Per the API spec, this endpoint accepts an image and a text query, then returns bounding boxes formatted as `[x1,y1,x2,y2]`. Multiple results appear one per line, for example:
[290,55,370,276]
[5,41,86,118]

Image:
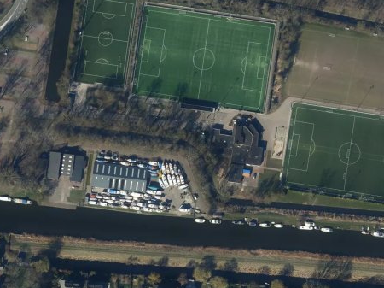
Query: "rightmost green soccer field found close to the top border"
[132,2,279,113]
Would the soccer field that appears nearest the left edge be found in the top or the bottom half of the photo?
top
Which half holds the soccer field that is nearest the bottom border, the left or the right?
right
